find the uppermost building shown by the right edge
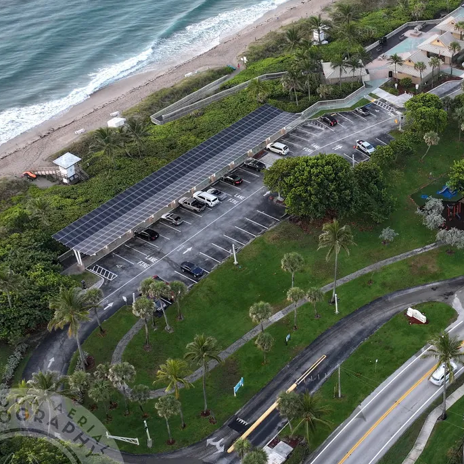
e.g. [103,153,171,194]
[434,15,464,40]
